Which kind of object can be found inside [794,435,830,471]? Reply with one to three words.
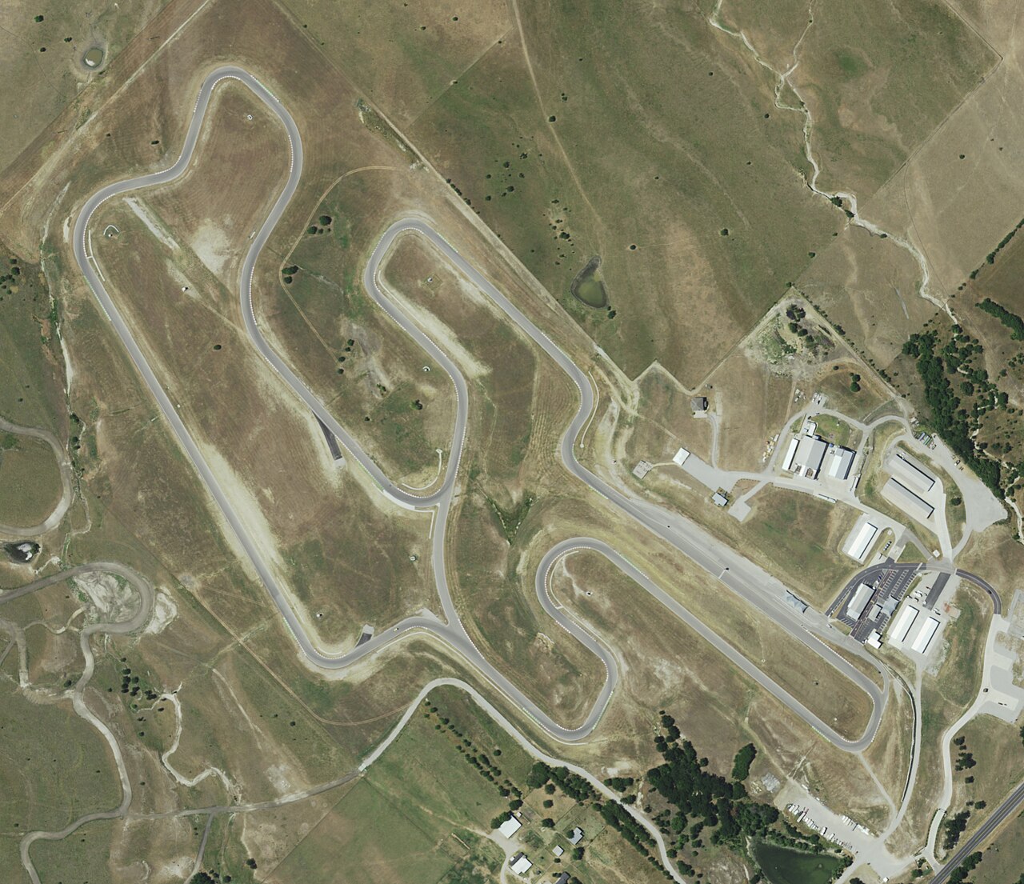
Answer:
building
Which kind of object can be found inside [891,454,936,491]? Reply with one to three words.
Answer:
hangar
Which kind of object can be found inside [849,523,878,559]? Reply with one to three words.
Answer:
hangar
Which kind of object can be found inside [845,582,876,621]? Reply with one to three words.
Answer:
building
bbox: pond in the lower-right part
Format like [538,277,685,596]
[751,839,840,884]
